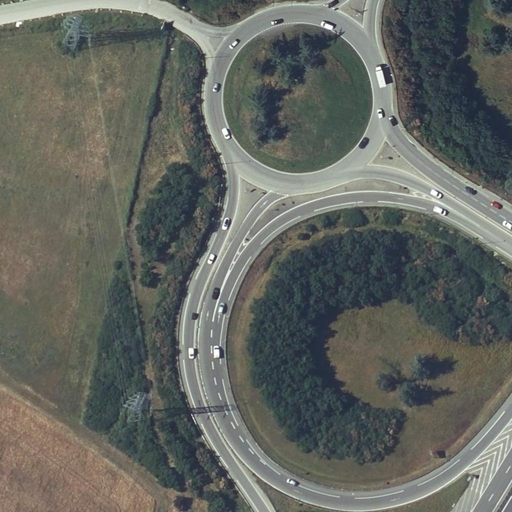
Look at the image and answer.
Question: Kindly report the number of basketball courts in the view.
zero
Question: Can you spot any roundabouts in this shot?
Yes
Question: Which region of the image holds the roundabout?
top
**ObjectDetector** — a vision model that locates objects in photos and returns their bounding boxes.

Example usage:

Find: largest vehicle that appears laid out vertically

[376,67,388,89]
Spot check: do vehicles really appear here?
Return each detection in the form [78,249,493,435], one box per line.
[229,39,240,50]
[207,254,216,266]
[222,218,230,231]
[378,108,384,120]
[214,346,220,360]
[320,22,334,32]
[429,190,442,200]
[327,0,339,10]
[432,206,446,217]
[212,288,219,301]
[388,115,398,128]
[464,186,478,196]
[376,67,388,89]
[222,128,230,140]
[285,478,298,487]
[218,303,224,315]
[188,348,194,360]
[212,82,219,94]
[490,201,502,210]
[191,311,198,323]
[501,220,512,230]
[358,138,369,150]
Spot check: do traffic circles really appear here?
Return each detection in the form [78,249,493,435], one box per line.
[201,2,390,195]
